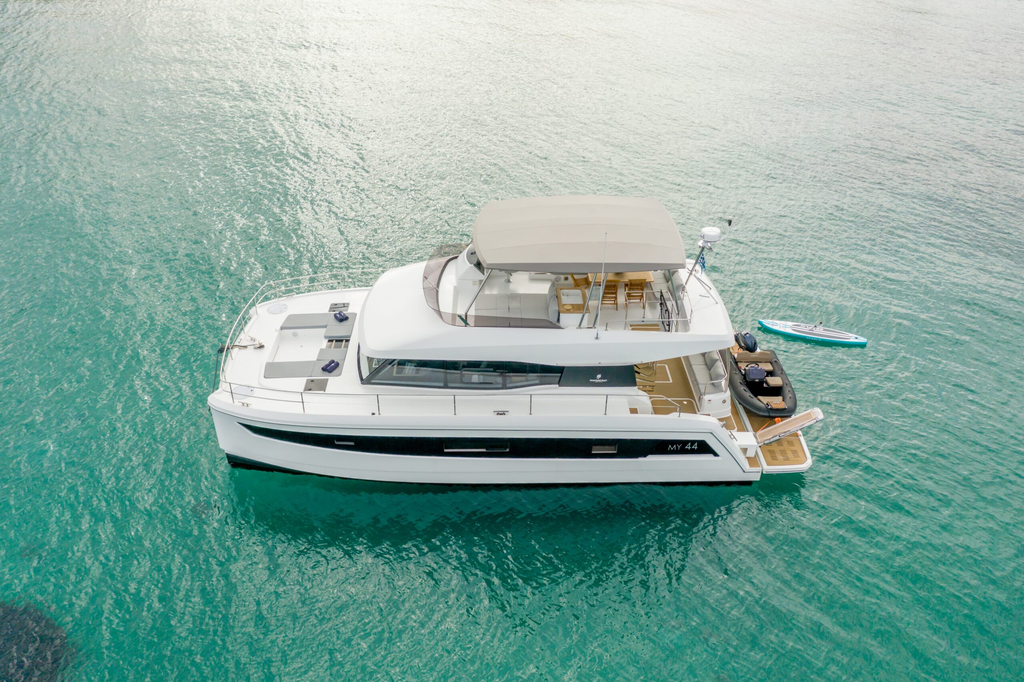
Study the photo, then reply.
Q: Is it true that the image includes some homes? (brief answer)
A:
No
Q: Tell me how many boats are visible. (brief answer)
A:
2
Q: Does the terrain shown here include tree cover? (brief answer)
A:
No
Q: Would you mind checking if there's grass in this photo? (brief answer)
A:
No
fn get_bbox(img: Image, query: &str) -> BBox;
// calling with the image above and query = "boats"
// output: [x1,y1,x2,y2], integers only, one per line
[207,199,812,485]
[719,322,799,420]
